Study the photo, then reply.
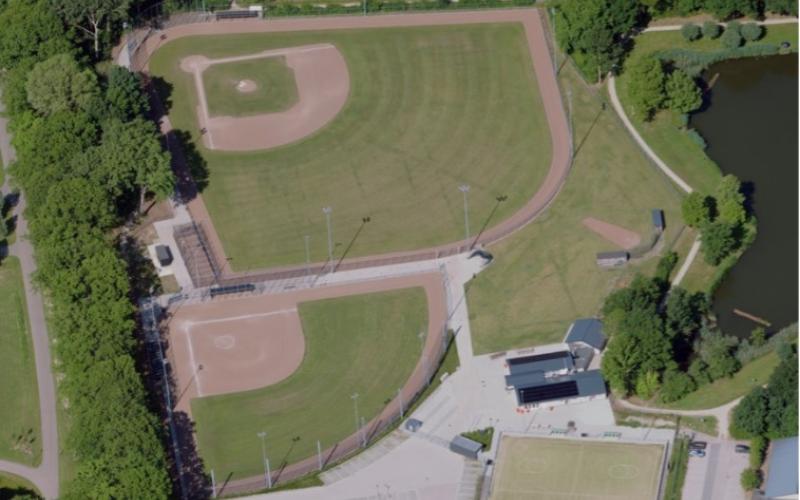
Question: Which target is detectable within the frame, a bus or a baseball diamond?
baseball diamond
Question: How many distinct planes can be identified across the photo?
0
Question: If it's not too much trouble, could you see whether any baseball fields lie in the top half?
Yes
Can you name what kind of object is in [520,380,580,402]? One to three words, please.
solar array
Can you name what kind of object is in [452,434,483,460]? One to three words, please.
shed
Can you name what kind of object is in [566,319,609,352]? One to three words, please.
shed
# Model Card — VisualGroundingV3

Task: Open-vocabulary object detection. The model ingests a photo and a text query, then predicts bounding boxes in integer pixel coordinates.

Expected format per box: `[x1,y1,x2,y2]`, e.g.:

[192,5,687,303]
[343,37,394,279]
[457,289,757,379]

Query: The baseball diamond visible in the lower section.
[160,272,447,500]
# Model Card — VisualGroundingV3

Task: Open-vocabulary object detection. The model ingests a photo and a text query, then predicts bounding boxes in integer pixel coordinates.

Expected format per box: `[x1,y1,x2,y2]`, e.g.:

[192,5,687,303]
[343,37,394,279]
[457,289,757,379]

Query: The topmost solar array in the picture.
[508,350,569,364]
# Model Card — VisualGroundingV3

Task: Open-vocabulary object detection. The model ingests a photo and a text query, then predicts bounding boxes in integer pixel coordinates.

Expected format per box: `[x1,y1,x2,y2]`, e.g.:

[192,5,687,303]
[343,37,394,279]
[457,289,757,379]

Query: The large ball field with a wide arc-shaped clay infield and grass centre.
[131,9,572,286]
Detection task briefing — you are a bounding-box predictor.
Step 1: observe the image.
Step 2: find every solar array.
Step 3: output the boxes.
[508,350,569,364]
[520,380,580,402]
